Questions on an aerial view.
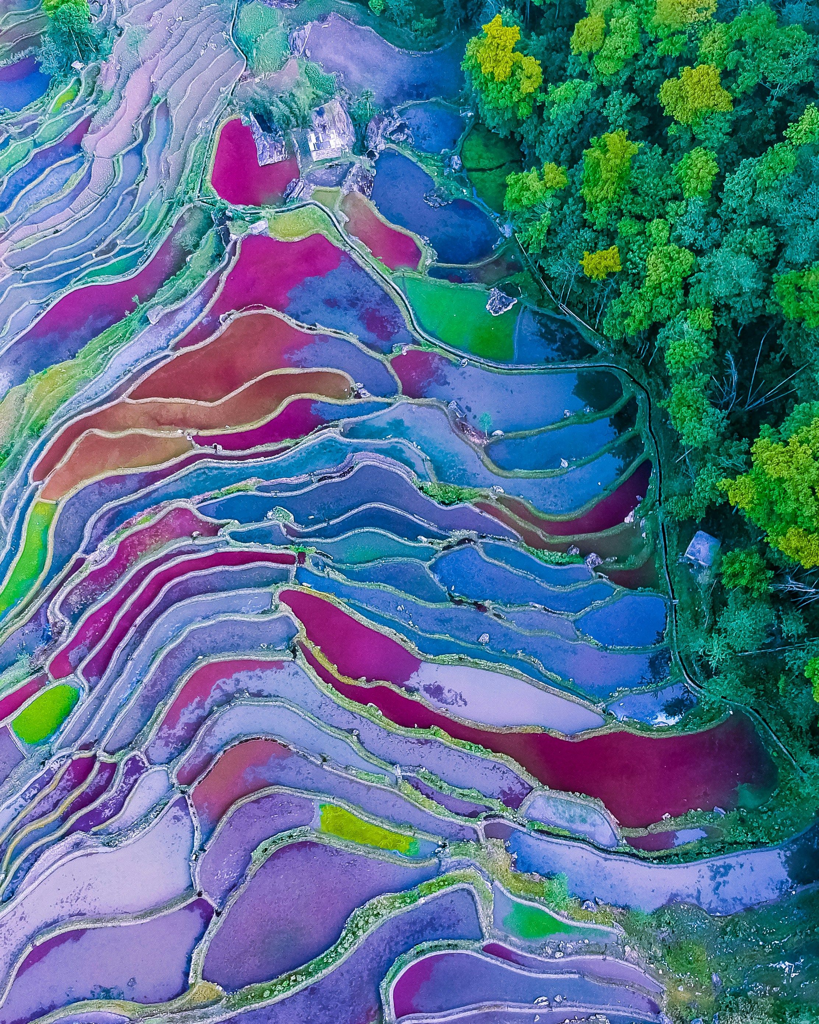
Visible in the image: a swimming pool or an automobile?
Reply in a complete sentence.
Visible in the photo is a swimming pool.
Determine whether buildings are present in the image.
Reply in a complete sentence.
Yes, there's a building down there.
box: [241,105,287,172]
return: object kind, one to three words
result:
house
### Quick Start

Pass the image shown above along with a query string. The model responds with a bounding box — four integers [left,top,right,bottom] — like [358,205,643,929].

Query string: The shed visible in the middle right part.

[681,530,722,567]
